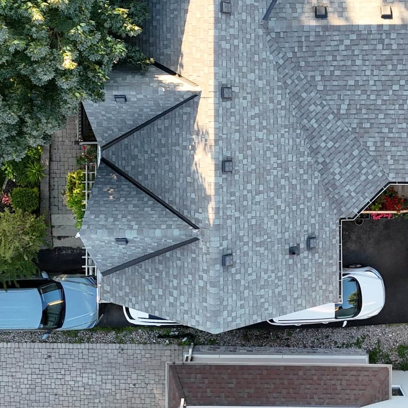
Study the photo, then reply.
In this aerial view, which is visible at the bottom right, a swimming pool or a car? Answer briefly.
car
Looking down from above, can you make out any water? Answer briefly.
No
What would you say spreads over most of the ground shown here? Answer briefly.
buildings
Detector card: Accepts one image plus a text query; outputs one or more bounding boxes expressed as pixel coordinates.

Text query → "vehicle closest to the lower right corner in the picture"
[272,266,386,327]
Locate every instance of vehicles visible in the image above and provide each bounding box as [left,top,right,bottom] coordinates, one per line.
[124,307,185,332]
[0,270,103,336]
[272,266,386,327]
